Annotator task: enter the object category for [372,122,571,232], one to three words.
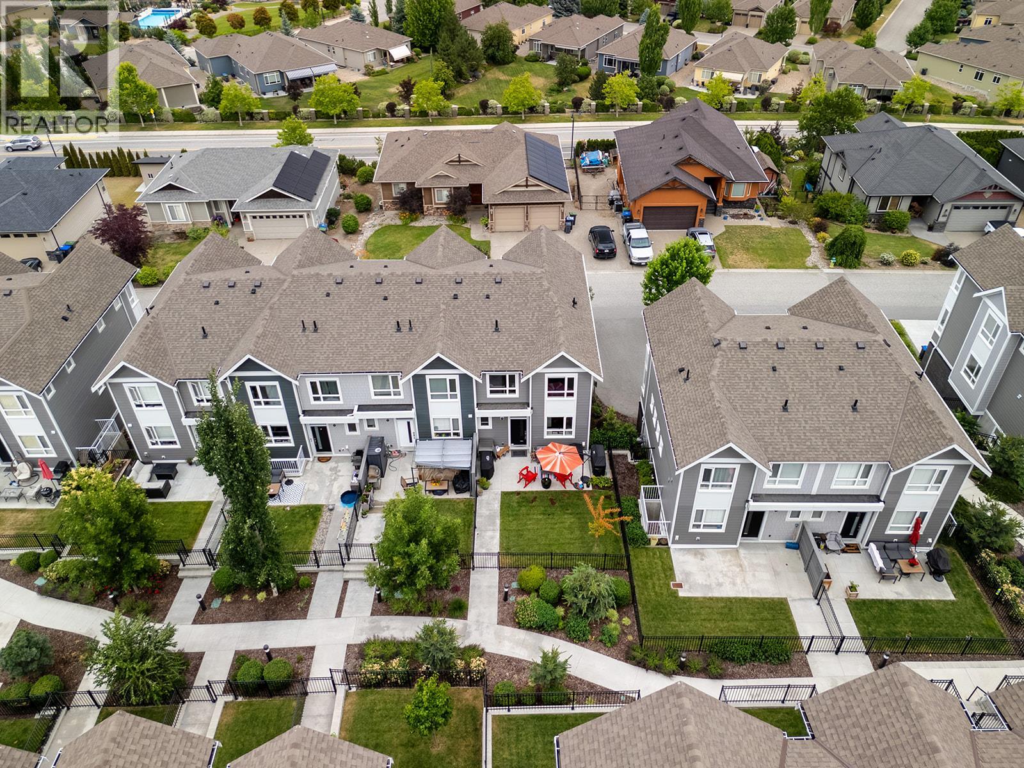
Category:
house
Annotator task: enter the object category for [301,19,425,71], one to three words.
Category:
house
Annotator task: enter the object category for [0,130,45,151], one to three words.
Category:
car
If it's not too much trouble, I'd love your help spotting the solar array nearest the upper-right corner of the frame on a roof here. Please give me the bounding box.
[527,126,565,184]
